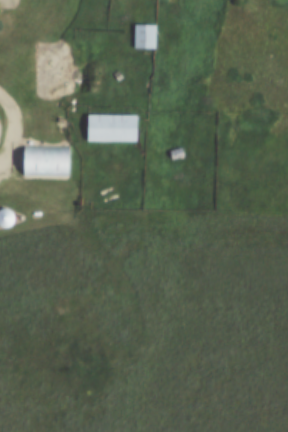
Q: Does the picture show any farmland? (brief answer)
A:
Yes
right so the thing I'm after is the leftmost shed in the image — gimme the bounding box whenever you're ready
[24,146,70,176]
